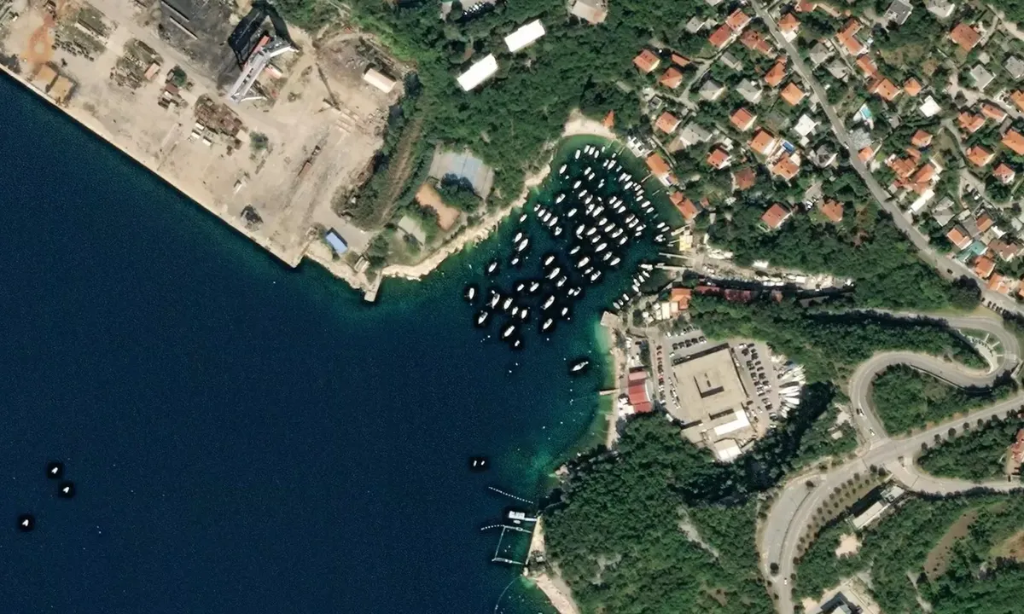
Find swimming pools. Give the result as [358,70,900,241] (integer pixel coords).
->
[780,138,797,154]
[858,104,874,121]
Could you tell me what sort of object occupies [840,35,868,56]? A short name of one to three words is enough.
house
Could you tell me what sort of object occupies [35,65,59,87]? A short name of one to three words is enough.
shed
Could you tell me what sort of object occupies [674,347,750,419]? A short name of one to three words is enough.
building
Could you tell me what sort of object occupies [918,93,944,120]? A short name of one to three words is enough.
house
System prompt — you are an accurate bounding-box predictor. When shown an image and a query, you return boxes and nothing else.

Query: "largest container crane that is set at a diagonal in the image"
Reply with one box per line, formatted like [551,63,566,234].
[227,32,303,103]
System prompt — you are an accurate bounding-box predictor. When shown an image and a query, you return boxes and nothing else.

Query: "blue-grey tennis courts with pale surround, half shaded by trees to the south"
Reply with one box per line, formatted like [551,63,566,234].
[427,150,494,201]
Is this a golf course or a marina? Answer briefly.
marina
